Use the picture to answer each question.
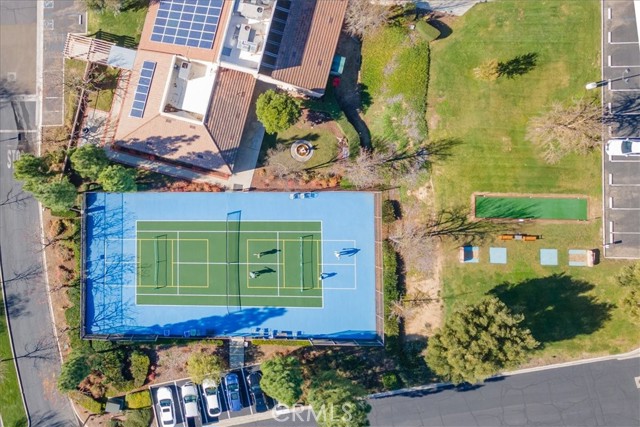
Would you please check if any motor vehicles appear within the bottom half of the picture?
Yes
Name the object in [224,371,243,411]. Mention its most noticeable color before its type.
blue car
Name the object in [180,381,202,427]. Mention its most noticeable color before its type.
white car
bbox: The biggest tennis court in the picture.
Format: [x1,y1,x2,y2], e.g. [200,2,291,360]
[84,191,378,341]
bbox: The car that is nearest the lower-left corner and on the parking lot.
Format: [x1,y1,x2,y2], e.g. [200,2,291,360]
[156,386,176,427]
